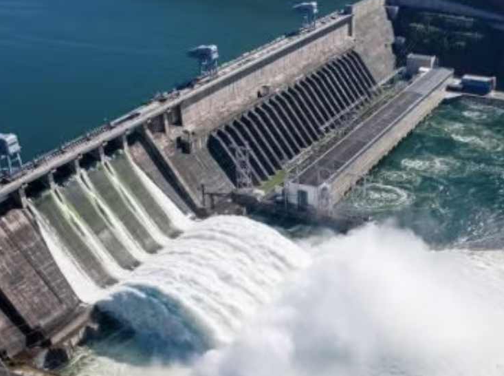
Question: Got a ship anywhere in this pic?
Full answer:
No, the frame has no ship in it.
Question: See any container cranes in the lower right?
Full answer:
No, I can find no container crane in the lower right.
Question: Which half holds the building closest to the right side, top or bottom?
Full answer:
The top half of the photo is where the building closest to the right side is.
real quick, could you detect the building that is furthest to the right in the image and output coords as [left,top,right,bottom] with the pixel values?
[463,73,494,96]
